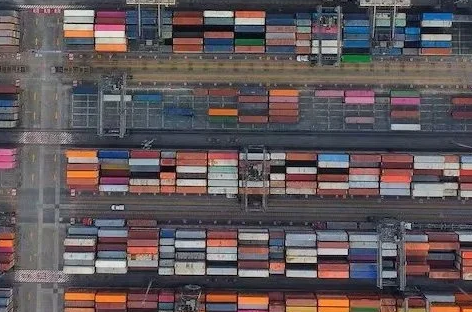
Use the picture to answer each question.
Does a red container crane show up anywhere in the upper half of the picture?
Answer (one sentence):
No, I see no red container crane in the upper half of the picture.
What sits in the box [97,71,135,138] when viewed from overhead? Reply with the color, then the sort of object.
gray container crane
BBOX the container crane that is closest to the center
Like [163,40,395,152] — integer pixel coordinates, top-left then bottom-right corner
[236,140,267,212]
